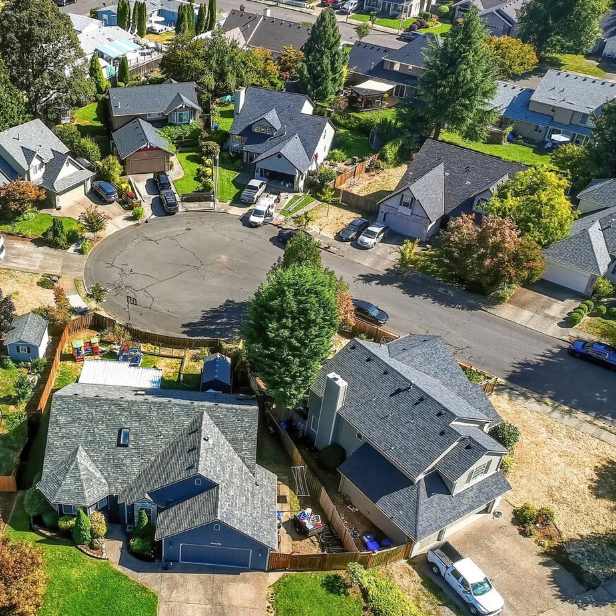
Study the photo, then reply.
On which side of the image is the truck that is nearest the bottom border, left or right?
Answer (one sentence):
You can find the truck that is nearest the bottom border on the right side of the picture.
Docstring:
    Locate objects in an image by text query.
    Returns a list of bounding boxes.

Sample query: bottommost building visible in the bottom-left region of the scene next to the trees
[38,384,281,571]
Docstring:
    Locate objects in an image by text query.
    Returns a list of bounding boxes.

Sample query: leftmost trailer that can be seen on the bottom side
[280,510,330,542]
